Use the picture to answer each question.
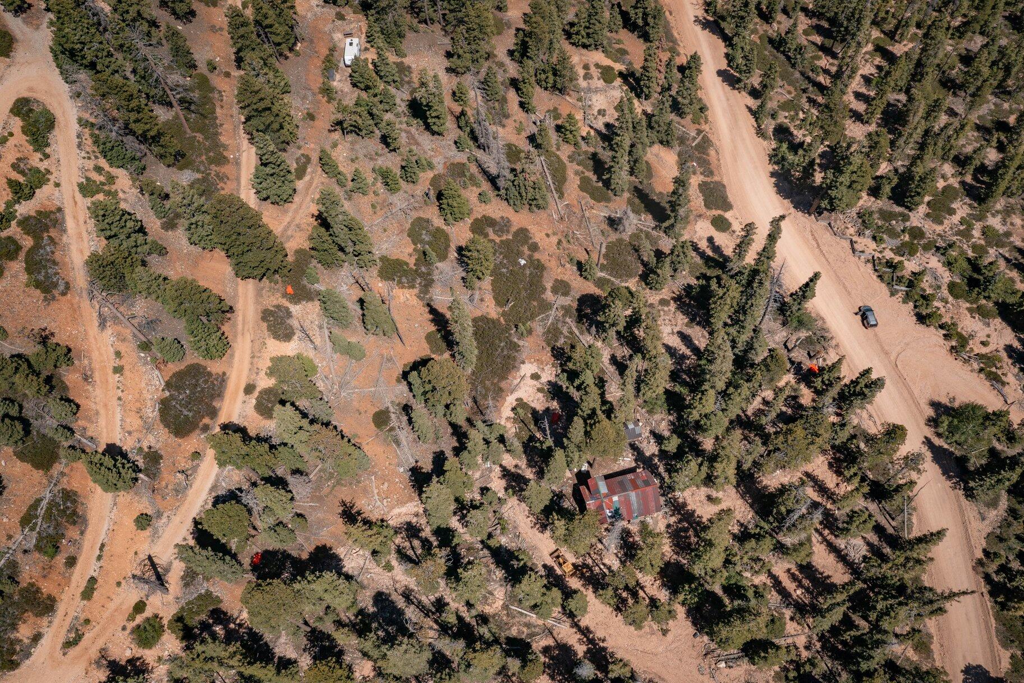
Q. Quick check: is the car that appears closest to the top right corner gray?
Yes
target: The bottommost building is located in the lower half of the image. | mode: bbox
[580,469,661,529]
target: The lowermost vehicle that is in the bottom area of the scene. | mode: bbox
[550,548,586,576]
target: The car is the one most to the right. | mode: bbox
[857,305,878,330]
